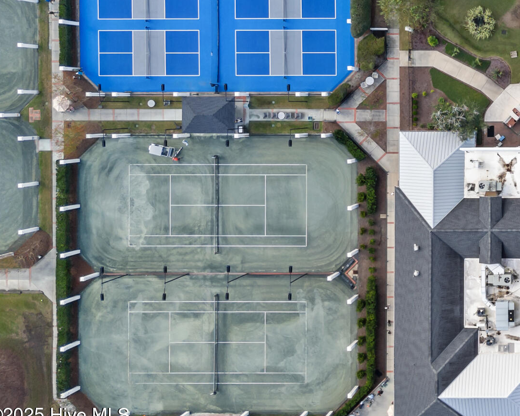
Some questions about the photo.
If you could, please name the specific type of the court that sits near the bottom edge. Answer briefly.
tennis court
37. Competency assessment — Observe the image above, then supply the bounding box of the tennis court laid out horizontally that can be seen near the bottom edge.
[76,275,358,412]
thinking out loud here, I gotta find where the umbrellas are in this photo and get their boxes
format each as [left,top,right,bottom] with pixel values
[386,402,395,416]
[54,93,76,114]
